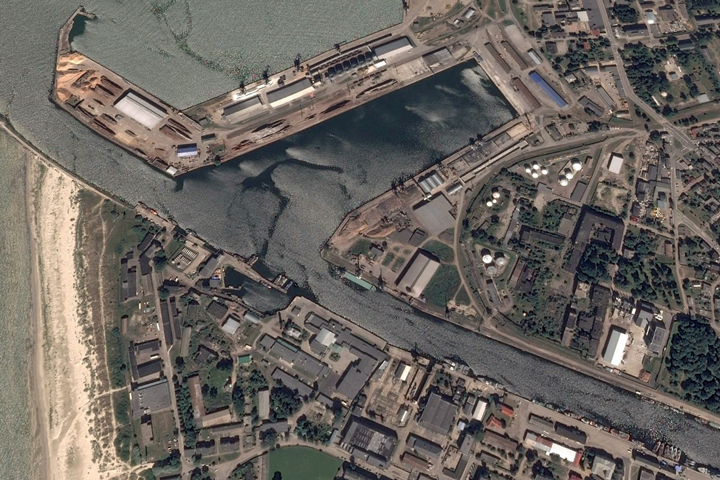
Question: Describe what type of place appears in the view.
port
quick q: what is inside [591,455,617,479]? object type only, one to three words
house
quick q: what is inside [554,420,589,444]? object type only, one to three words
building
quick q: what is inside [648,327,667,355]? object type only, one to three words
building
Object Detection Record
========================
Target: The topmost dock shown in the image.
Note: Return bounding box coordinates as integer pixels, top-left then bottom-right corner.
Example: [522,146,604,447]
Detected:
[55,6,95,60]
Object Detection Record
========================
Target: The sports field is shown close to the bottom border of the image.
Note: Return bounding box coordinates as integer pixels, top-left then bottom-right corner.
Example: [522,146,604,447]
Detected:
[262,445,342,480]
